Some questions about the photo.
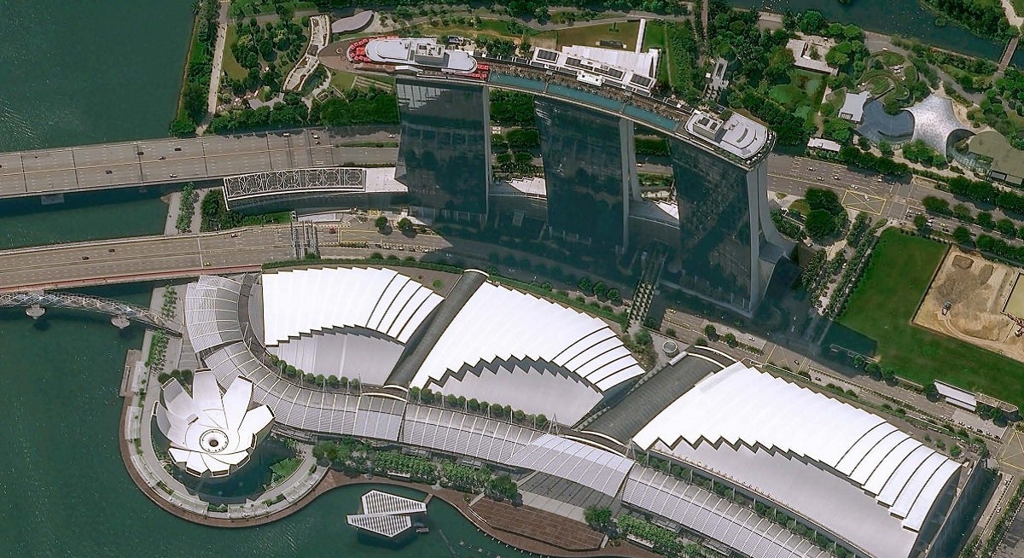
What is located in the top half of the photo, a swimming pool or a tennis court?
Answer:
swimming pool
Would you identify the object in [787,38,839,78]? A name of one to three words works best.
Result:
house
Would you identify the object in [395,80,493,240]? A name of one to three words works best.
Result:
building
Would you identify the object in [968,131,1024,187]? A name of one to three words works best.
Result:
building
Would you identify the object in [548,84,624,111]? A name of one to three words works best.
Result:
swimming pool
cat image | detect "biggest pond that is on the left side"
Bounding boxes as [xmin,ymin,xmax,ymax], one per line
[152,402,307,504]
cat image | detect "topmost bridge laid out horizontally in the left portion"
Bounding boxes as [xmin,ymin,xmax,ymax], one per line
[0,124,393,198]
